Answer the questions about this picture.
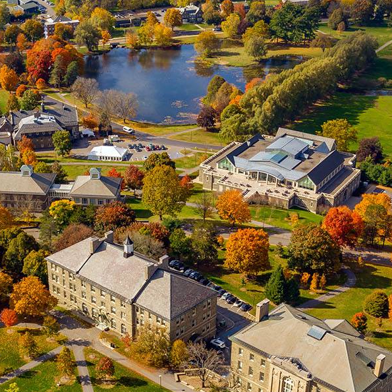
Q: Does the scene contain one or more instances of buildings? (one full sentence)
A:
Yes, you can see a building in this photo.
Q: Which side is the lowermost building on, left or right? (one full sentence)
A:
The lowermost building sits on the right side.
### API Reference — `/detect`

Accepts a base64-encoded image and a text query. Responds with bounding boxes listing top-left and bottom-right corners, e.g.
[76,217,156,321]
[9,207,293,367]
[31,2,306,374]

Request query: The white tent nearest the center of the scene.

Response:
[87,146,124,161]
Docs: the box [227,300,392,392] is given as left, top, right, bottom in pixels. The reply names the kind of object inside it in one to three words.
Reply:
building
